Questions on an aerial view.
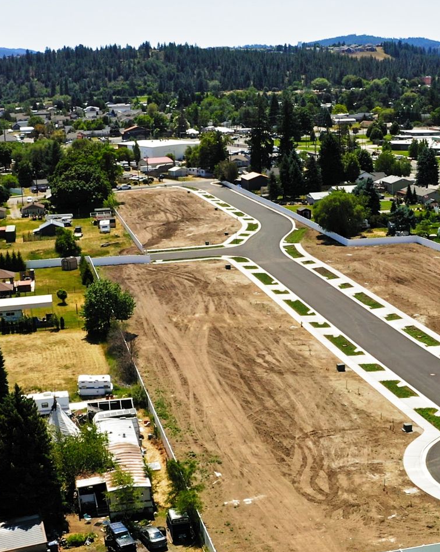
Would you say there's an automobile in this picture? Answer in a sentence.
Yes, there's an automobile here.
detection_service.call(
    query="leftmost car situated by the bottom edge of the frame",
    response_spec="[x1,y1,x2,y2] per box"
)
[109,518,140,551]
